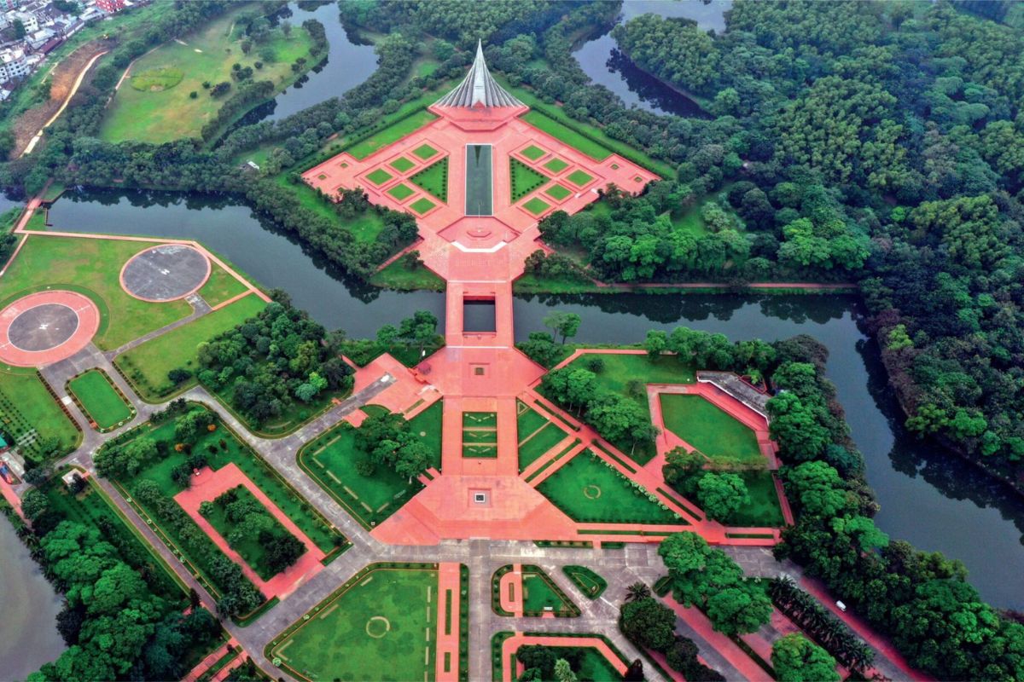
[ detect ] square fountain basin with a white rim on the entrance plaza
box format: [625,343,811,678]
[468,489,492,507]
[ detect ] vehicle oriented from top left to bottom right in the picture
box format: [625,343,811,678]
[834,597,849,613]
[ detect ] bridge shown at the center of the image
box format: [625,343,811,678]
[446,281,514,346]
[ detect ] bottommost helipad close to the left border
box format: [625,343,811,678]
[0,289,100,367]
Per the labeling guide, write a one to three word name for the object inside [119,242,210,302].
helipad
